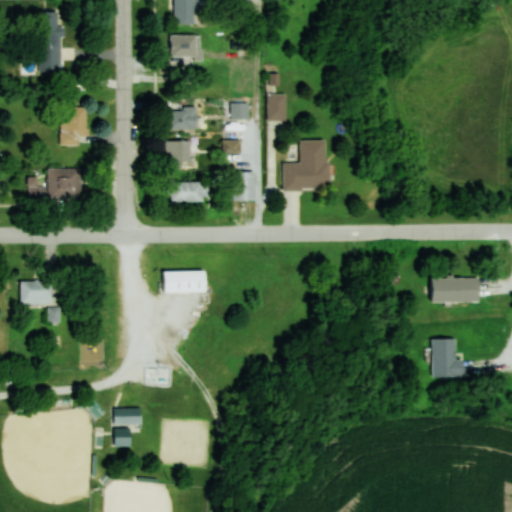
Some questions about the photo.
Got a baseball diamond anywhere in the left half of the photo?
Yes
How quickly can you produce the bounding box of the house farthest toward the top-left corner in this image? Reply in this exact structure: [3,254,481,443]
[38,11,64,72]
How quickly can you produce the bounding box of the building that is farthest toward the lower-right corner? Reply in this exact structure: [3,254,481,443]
[432,339,467,378]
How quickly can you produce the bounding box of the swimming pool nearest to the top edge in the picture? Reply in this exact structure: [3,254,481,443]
[20,60,37,76]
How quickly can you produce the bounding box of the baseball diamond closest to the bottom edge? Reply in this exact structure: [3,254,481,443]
[104,480,172,512]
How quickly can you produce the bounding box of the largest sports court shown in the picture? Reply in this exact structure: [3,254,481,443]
[160,420,209,467]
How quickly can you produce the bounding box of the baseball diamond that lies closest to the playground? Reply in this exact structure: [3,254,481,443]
[2,408,92,504]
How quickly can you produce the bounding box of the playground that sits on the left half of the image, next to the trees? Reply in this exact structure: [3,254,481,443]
[79,340,105,369]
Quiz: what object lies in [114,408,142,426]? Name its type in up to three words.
building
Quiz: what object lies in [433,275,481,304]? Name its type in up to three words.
house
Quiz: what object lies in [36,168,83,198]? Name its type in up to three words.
house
